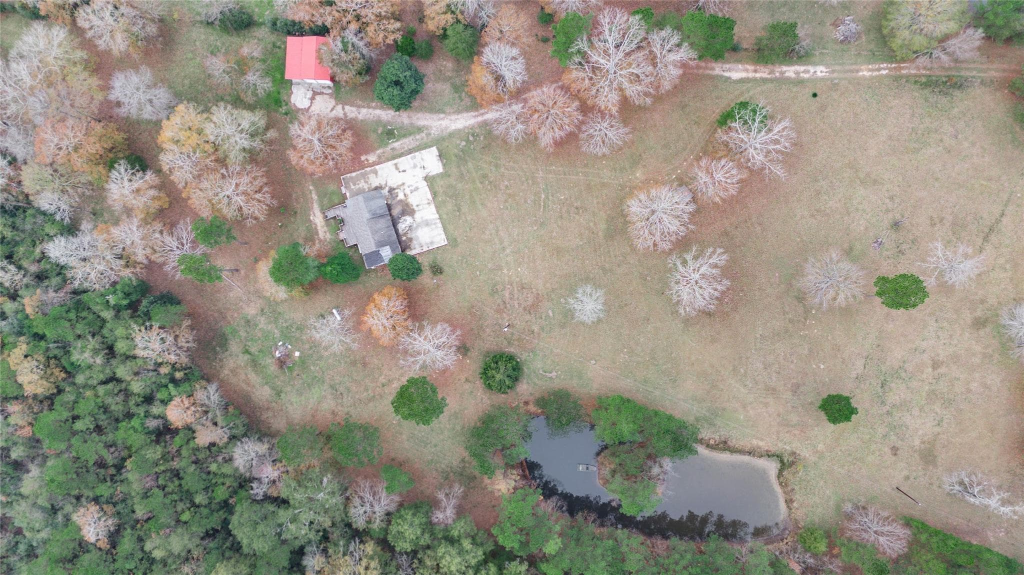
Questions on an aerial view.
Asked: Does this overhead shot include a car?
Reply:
No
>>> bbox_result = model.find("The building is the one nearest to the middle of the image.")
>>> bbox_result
[346,190,401,269]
